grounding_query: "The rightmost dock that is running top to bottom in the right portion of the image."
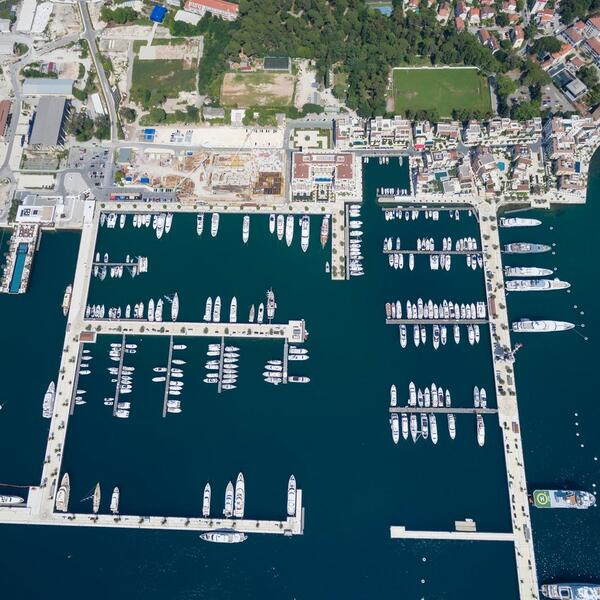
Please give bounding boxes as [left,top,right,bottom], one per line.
[479,215,540,600]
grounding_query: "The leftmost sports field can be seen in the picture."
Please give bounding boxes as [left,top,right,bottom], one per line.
[221,73,294,105]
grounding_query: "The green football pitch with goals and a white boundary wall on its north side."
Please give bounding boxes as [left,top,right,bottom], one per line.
[391,69,493,115]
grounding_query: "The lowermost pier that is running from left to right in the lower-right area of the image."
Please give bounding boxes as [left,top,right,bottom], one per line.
[390,526,514,540]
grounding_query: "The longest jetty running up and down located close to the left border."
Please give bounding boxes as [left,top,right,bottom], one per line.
[27,211,98,513]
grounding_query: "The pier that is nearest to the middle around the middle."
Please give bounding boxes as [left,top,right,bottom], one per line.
[288,320,305,343]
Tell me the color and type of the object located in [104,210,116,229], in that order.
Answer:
white boat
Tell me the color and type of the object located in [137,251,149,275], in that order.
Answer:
white boat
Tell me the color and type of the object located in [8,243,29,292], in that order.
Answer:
blue swimming pool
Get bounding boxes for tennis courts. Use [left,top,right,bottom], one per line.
[369,1,395,16]
[263,57,290,70]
